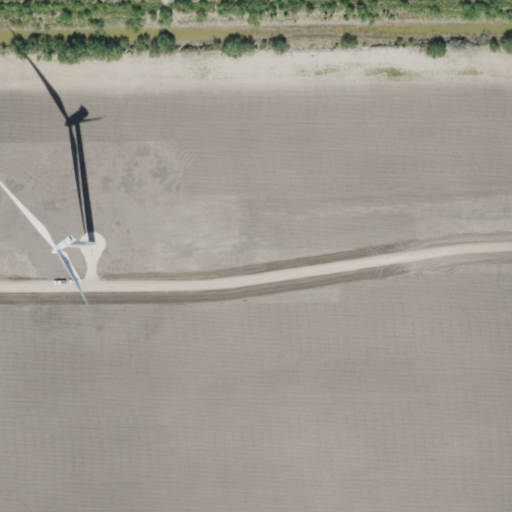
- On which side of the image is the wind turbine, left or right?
left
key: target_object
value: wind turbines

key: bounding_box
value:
[0,178,97,305]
